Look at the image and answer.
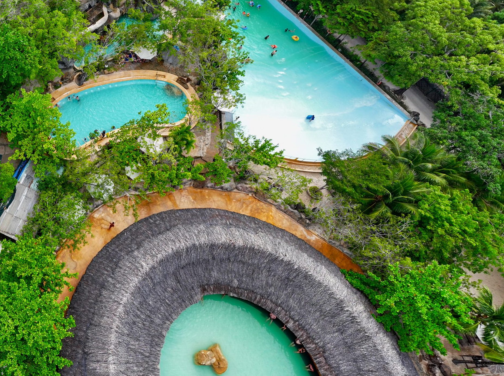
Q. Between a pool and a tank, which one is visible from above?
pool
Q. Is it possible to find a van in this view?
No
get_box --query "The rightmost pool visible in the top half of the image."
[216,0,414,170]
